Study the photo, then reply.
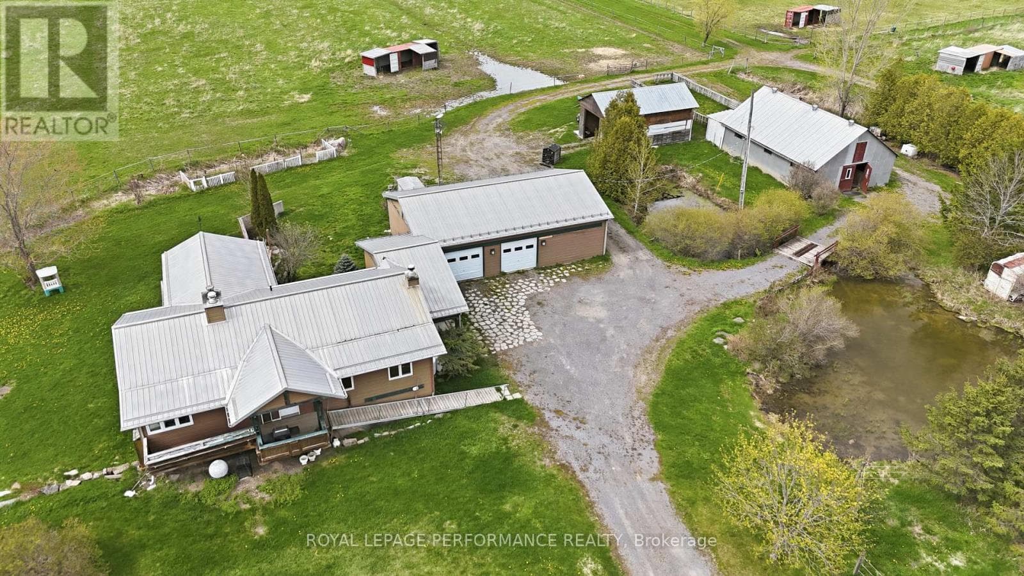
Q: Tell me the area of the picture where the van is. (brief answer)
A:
right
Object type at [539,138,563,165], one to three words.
shed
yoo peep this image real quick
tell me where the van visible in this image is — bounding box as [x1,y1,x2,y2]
[983,252,1024,298]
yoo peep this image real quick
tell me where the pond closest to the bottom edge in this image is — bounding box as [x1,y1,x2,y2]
[755,272,1024,465]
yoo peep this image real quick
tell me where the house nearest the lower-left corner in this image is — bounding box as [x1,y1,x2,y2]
[109,228,470,490]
